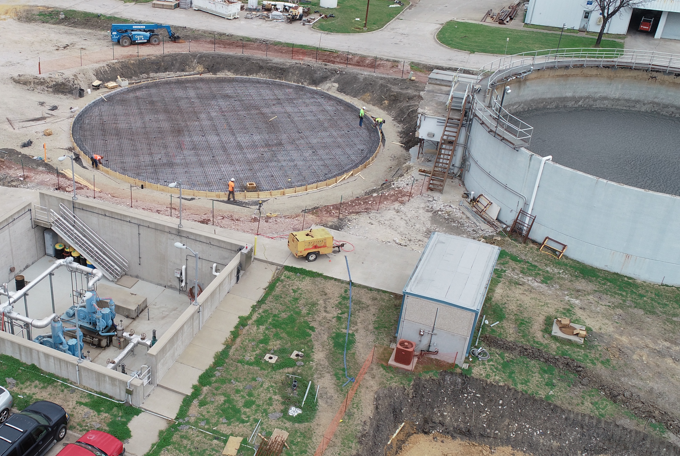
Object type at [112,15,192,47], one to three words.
work vehicle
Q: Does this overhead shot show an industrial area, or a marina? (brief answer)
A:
industrial area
